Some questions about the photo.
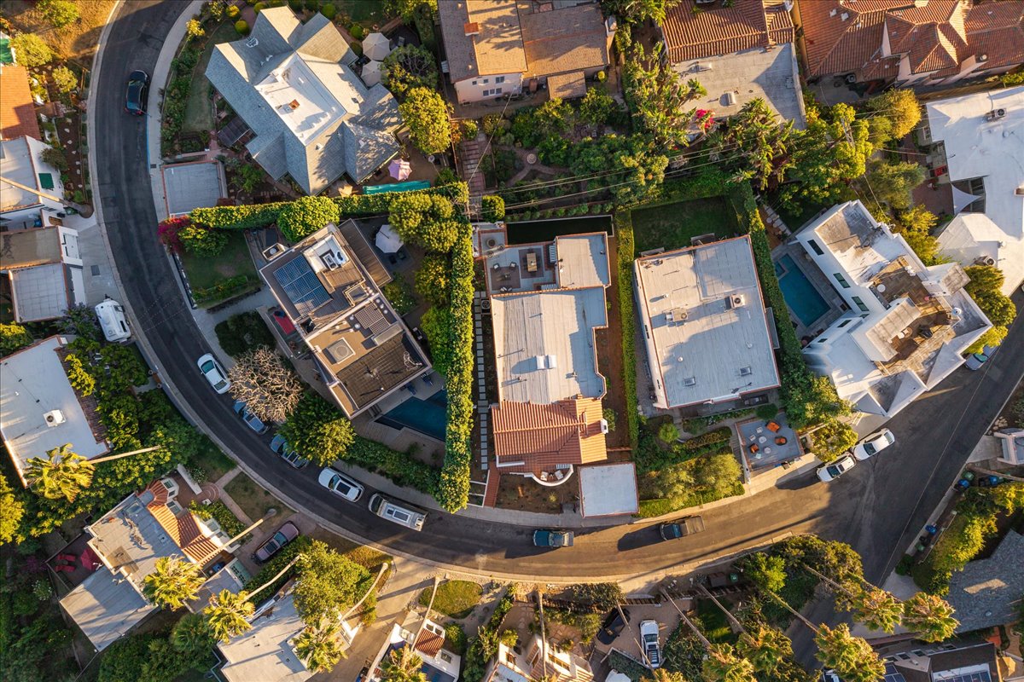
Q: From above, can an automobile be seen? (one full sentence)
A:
Yes, I can see an automobile in this picture.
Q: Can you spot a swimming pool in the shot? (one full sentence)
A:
Yes, you can see a swimming pool in this photo.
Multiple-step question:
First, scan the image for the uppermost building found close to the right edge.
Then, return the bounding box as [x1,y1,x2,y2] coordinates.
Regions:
[799,0,1024,95]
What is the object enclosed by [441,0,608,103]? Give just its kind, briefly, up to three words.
house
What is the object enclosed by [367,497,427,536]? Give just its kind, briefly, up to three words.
camper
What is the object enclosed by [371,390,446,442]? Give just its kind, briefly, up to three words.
swimming pool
